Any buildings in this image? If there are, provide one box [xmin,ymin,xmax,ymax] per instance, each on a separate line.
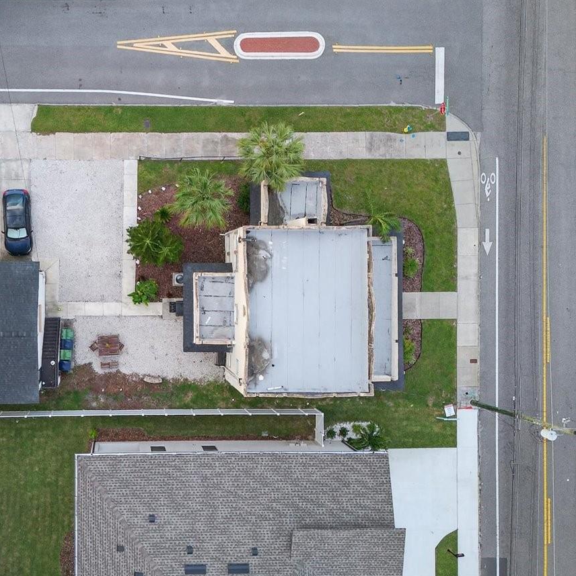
[0,262,48,407]
[182,171,402,397]
[73,438,405,576]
